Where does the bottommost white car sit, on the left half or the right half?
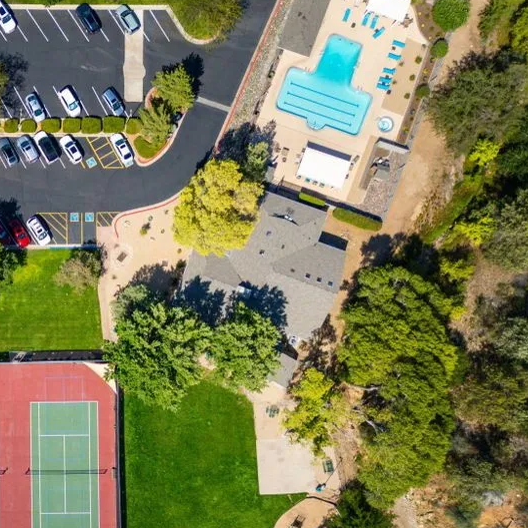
left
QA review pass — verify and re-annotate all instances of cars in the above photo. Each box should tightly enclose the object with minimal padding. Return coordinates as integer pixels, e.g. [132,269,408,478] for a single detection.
[36,131,59,165]
[25,91,46,122]
[111,135,133,165]
[28,214,49,244]
[9,217,30,247]
[0,138,18,167]
[59,86,80,117]
[61,134,82,165]
[102,86,123,115]
[77,2,99,34]
[18,135,38,164]
[118,4,139,34]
